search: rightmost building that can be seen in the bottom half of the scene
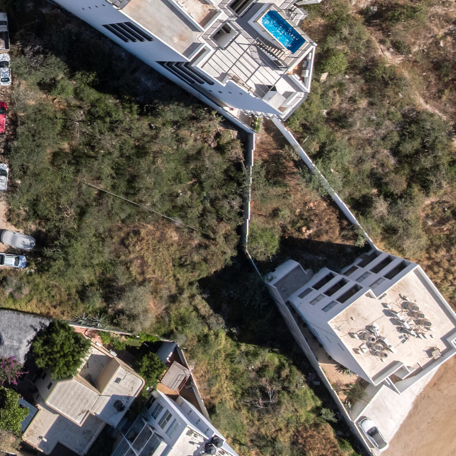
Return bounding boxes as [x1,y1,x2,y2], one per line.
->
[255,245,456,394]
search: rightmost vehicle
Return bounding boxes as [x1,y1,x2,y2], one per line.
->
[358,416,392,455]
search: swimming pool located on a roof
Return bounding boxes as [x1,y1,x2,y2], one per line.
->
[261,11,308,55]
